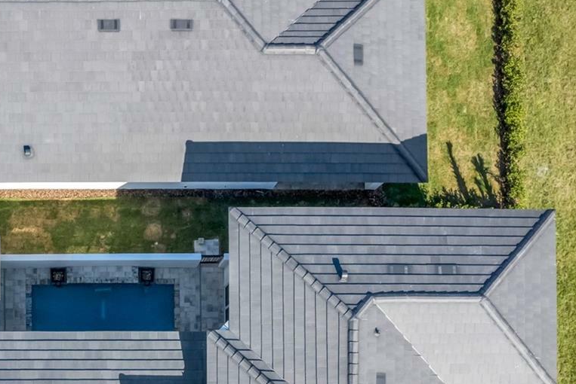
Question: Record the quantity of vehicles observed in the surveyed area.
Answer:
zero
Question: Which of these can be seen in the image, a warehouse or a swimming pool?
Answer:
swimming pool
